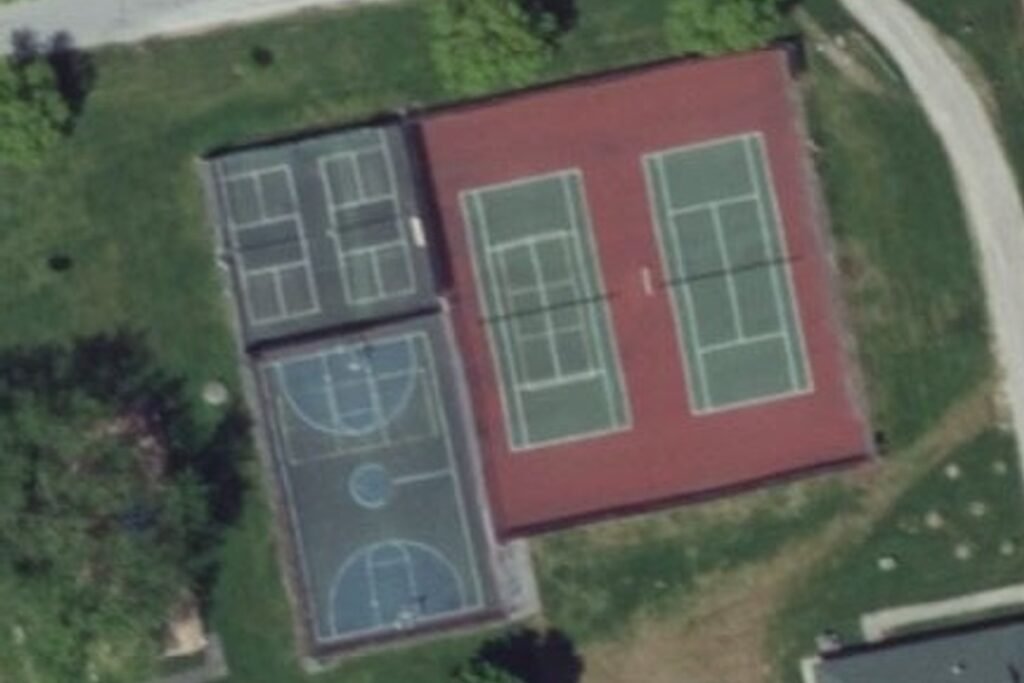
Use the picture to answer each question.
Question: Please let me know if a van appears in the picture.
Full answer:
No, this view has no van in it.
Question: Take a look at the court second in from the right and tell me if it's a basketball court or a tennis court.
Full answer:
The court second in from the right is a tennis court.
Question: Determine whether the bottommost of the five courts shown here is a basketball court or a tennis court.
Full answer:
The bottommost of the five courts can be classified as a basketball court.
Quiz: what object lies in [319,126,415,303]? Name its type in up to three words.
sports court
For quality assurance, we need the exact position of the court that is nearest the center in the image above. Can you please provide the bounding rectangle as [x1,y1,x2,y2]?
[459,168,633,452]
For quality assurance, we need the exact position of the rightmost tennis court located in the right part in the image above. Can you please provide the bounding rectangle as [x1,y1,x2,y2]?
[642,133,814,415]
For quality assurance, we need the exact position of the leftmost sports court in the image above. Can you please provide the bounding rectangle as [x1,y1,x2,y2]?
[219,164,320,324]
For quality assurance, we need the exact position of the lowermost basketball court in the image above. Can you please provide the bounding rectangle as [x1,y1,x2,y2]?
[261,333,483,644]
